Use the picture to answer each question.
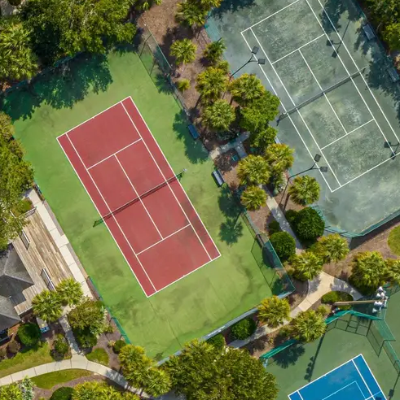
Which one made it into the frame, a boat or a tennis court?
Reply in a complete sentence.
Visible in the photo is a tennis court.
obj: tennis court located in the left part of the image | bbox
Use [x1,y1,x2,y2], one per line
[0,34,284,364]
